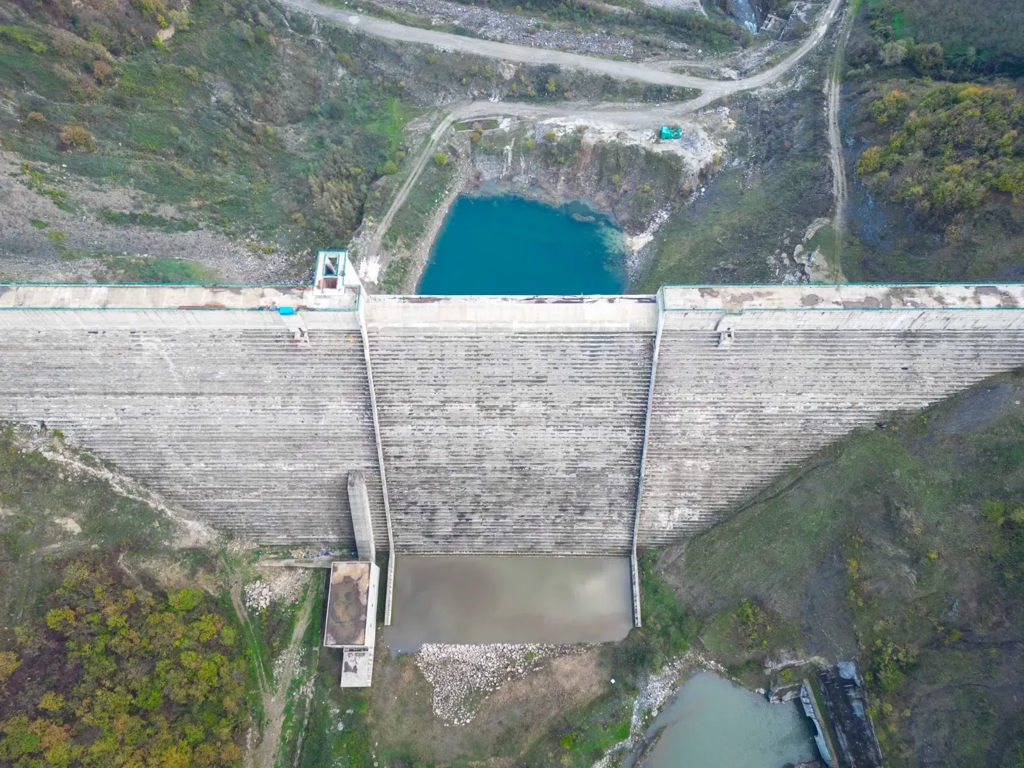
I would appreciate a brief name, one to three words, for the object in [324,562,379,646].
building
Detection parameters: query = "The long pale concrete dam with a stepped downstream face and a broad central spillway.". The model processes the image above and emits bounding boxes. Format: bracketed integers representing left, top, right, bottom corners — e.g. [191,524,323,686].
[0,284,1024,560]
